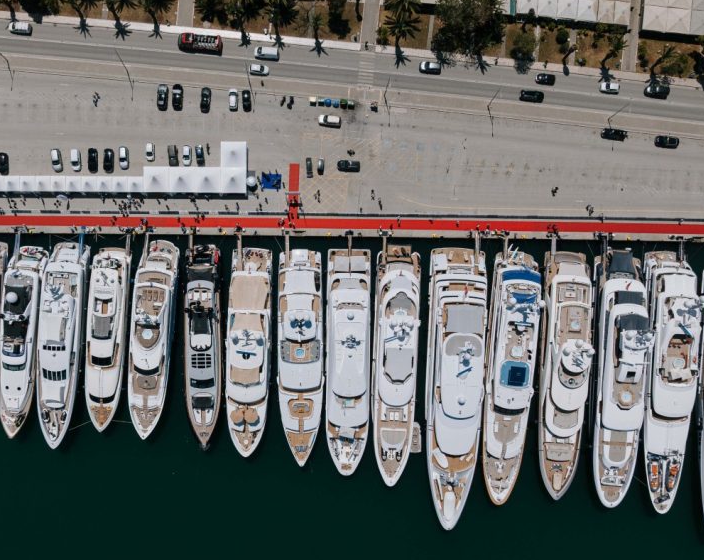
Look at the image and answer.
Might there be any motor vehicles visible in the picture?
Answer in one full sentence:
Yes, a motor vehicle can be made out from above.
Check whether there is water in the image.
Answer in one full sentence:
Yes, the picture does contain water.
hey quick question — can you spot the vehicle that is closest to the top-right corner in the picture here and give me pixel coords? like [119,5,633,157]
[646,83,672,96]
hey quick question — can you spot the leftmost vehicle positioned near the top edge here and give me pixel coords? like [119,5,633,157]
[8,20,32,34]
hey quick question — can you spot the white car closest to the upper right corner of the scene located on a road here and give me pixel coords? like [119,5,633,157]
[599,80,622,92]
